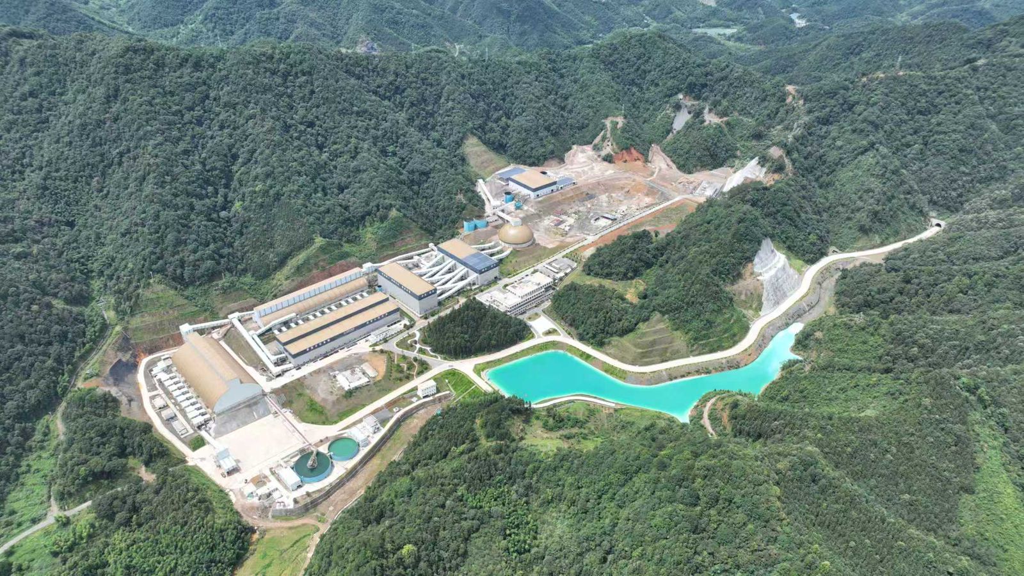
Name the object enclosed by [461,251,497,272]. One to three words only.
solar panel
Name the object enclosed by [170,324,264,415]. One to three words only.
shed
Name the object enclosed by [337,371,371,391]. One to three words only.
building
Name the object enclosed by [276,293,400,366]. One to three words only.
building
